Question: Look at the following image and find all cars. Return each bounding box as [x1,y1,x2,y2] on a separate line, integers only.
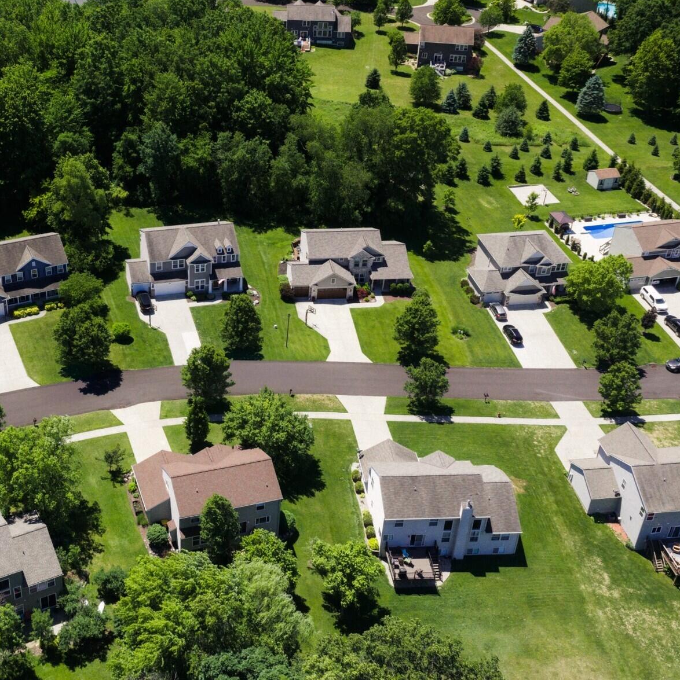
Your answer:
[667,357,680,374]
[487,301,508,319]
[136,291,152,310]
[643,282,667,306]
[502,324,527,343]
[666,315,680,335]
